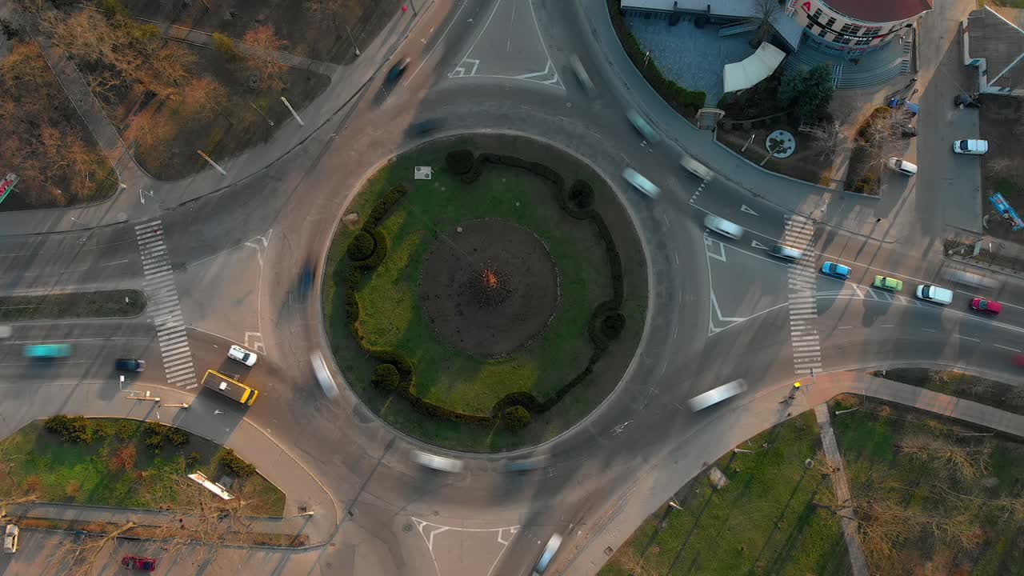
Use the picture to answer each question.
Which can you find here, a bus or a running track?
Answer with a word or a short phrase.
bus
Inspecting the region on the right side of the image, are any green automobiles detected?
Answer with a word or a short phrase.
Yes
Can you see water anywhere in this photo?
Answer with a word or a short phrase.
No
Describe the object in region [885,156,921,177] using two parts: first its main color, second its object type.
white car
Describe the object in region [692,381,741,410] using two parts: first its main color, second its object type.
white vehicle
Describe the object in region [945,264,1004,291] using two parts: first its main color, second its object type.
gray vehicle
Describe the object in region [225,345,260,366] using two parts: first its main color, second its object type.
white car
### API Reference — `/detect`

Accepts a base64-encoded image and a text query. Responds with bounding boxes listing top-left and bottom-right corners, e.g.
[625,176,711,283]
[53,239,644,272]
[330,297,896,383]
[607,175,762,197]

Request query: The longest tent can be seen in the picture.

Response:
[719,43,785,101]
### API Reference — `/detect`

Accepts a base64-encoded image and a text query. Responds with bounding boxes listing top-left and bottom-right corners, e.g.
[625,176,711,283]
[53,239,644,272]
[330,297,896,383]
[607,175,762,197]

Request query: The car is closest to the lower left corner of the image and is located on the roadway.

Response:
[2,522,22,555]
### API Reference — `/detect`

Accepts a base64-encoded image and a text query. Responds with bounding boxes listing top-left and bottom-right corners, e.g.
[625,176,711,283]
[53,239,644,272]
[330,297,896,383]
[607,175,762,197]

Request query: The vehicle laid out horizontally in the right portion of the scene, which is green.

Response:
[870,275,905,292]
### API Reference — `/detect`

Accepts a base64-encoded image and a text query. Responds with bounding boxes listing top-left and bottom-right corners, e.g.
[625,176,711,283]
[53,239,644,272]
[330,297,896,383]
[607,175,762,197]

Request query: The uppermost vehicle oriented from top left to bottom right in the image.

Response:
[569,58,593,90]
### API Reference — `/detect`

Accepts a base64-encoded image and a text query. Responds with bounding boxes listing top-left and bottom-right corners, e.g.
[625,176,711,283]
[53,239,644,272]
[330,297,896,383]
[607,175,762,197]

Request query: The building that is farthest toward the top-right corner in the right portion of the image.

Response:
[961,5,1024,101]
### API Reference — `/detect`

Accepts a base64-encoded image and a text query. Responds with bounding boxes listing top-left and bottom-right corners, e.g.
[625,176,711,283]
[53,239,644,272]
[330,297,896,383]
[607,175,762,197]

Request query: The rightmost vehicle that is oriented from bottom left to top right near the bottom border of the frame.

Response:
[532,536,561,575]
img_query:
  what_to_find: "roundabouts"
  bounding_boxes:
[314,124,659,464]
